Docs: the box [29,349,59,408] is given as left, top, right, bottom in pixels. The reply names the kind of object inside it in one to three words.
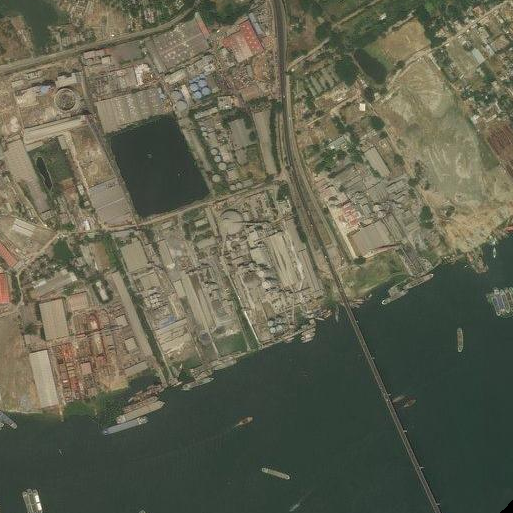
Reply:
building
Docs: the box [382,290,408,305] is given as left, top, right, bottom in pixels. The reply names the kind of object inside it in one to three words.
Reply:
ship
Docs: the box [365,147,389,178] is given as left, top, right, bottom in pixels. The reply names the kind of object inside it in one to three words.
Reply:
building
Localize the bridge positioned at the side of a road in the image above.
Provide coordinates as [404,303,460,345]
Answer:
[338,287,441,513]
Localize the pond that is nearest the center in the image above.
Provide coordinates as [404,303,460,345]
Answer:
[109,115,209,216]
